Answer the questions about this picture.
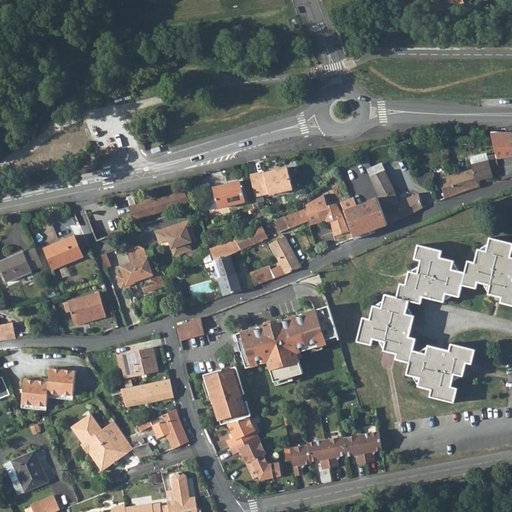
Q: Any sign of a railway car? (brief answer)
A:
No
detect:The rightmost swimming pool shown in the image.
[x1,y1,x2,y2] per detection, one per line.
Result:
[190,280,213,295]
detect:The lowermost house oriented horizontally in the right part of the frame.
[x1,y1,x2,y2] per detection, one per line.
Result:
[284,432,380,478]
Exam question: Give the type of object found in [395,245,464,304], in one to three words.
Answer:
building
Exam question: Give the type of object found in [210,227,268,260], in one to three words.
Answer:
house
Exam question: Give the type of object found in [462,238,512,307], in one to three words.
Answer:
building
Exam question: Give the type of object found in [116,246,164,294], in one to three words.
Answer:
house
